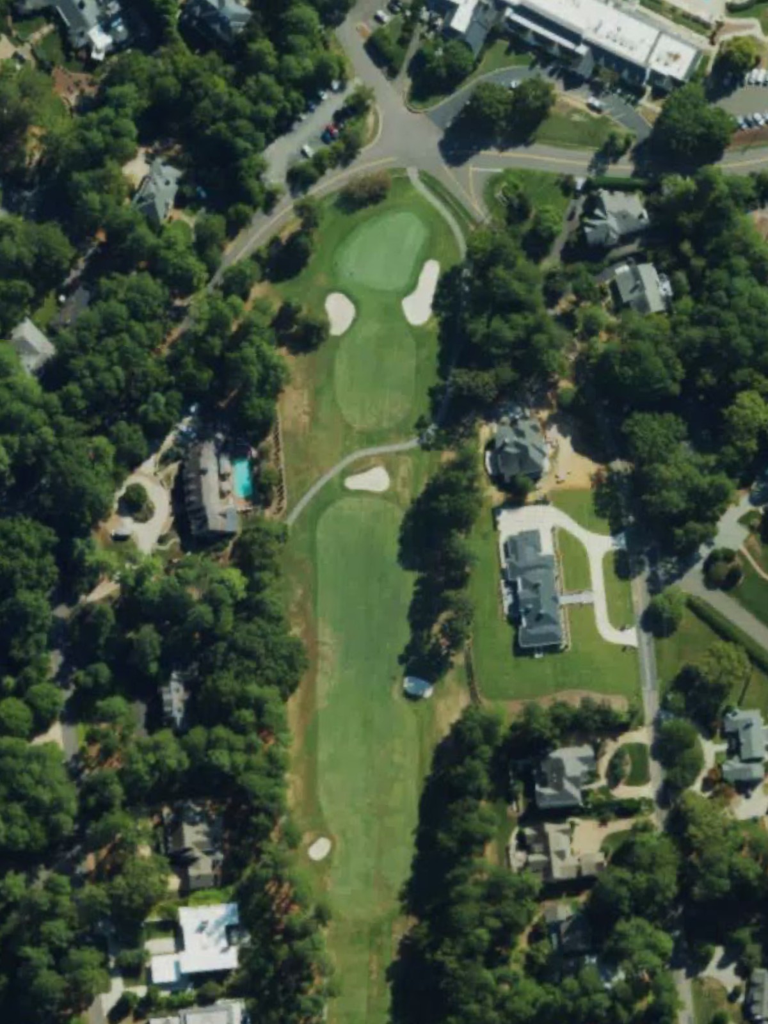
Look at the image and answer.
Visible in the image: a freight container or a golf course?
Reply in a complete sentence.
It is a golf course that can be seen here.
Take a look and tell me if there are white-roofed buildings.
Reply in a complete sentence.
Yes, you can see a white-roofed building in this photo.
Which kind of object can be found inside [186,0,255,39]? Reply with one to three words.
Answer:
house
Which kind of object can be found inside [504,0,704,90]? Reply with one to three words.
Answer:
building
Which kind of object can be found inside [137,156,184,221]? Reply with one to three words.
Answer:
house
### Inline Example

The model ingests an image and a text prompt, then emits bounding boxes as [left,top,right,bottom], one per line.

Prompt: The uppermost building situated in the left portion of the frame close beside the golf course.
[184,441,237,542]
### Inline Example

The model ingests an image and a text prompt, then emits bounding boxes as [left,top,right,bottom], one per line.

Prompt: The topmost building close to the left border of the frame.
[6,0,112,60]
